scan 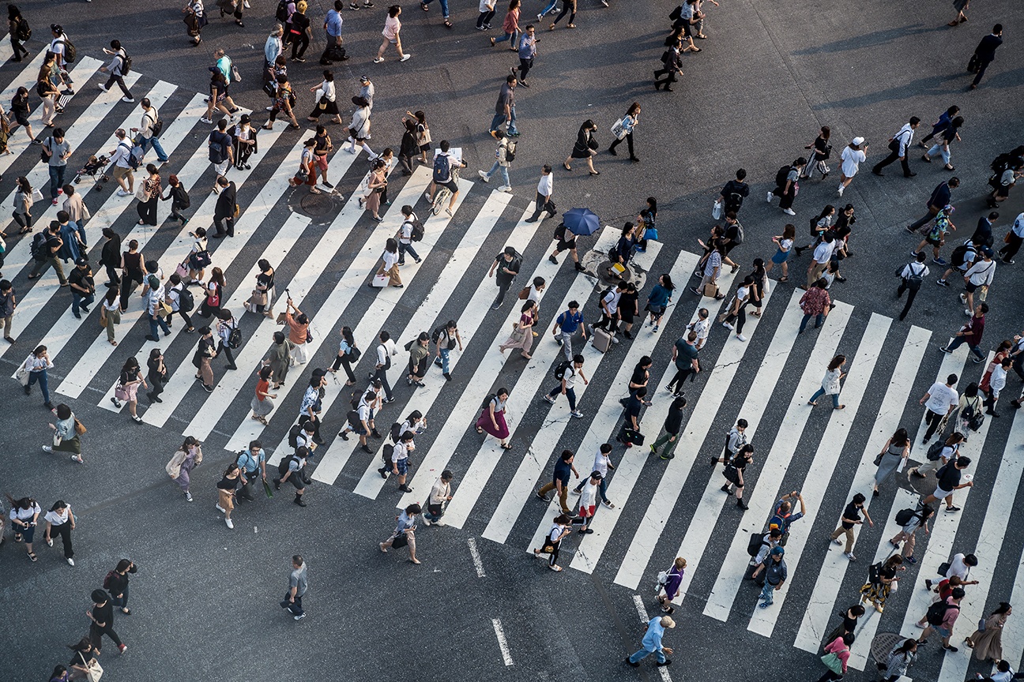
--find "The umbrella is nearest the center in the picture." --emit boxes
[563,205,603,231]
